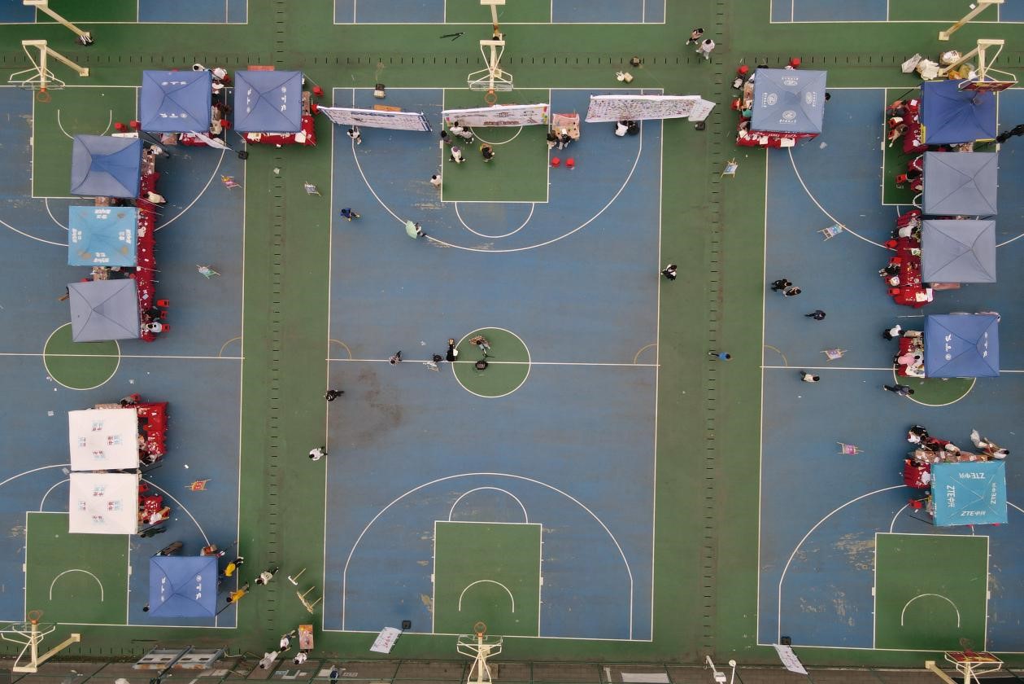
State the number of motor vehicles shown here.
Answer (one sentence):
I count no motor vehicles.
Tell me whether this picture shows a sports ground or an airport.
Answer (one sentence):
This looks like a sports ground.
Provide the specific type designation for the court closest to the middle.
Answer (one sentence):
I'd identify the court closest to the middle as a basketball court.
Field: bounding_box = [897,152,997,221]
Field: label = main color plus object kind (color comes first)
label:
gray tent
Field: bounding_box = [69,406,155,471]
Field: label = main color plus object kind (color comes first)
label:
white tent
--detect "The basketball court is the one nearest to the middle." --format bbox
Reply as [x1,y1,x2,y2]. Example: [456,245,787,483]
[323,80,663,642]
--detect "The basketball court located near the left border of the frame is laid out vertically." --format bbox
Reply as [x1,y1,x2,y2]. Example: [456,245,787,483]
[0,86,247,627]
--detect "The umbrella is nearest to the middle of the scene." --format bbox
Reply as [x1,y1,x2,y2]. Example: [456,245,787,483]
[404,217,419,243]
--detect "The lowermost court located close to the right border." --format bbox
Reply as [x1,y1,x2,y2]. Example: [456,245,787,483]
[756,90,1024,654]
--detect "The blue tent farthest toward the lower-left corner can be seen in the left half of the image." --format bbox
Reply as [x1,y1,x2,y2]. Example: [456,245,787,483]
[149,542,239,616]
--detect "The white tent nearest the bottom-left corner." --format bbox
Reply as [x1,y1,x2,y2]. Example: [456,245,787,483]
[69,465,164,534]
